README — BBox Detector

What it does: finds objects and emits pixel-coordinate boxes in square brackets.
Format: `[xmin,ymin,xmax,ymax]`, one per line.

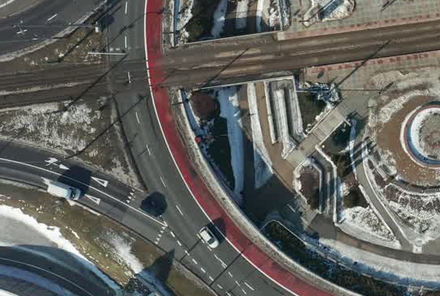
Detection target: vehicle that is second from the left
[136,196,163,219]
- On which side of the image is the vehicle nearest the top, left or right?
left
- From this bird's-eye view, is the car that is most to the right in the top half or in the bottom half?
bottom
